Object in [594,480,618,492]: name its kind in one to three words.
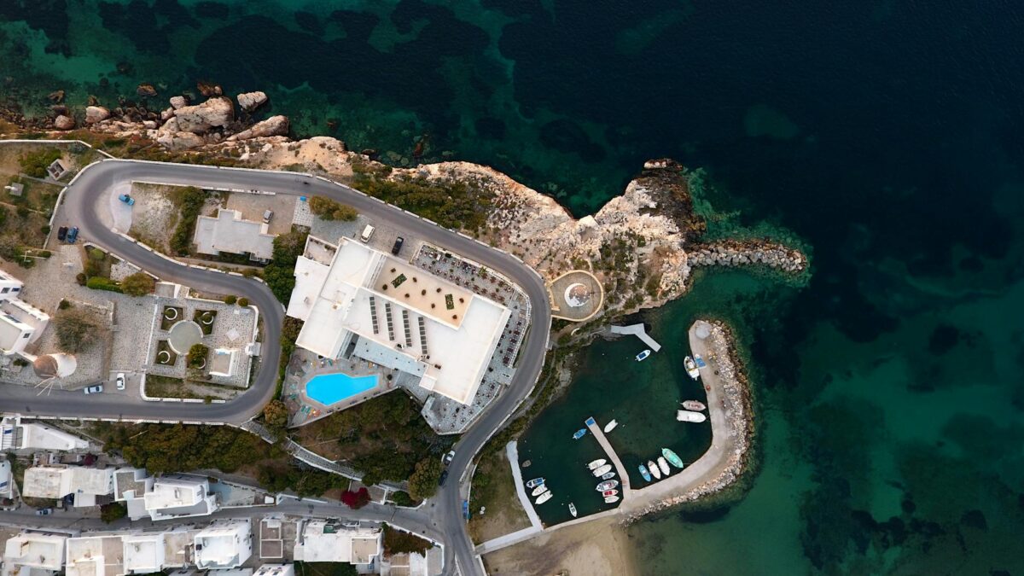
boat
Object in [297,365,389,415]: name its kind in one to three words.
swimming pool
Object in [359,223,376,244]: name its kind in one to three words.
vehicle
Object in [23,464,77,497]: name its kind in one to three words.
house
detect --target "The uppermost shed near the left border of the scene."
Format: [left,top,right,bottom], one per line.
[48,160,74,182]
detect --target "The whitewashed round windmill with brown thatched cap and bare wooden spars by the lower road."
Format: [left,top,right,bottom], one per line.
[28,353,78,393]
